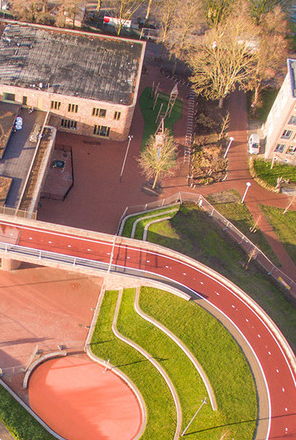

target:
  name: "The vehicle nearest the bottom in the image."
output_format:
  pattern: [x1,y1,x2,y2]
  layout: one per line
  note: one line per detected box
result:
[249,134,263,152]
